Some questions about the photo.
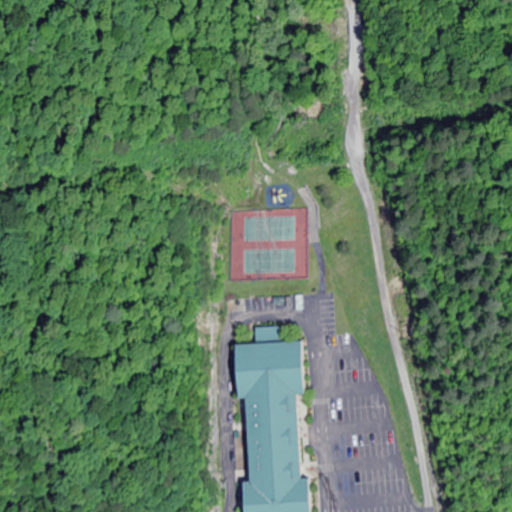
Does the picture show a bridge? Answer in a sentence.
No, there isn't any bridge down there.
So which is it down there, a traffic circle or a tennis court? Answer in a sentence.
It is a tennis court that can be seen here.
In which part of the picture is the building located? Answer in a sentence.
You can find the building in the bottom area of the picture.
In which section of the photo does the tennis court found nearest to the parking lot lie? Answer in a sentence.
The tennis court found nearest to the parking lot appears toward the center of the photo.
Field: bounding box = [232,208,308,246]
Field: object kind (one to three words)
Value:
tennis court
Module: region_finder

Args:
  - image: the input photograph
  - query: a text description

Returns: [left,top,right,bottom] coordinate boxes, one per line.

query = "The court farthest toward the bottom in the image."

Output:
[231,243,308,280]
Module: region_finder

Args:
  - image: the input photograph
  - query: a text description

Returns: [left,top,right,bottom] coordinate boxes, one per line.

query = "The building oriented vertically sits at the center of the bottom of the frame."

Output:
[234,325,310,512]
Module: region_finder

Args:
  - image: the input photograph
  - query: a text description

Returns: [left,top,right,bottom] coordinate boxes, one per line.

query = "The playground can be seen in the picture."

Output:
[266,184,294,208]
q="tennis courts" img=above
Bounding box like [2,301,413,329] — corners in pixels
[232,208,308,246]
[231,243,308,280]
